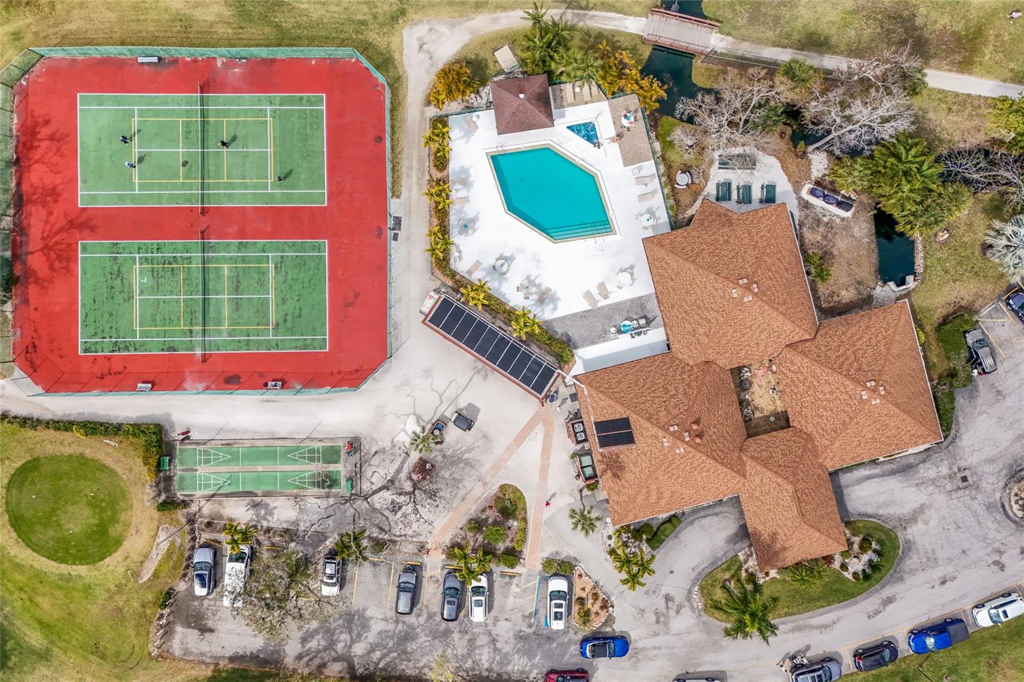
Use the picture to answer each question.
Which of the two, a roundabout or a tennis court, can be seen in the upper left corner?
tennis court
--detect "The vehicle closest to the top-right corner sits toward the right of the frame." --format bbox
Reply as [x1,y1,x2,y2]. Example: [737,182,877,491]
[996,283,1024,331]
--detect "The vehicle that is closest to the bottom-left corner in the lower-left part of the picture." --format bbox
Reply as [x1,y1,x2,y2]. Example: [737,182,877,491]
[191,545,218,598]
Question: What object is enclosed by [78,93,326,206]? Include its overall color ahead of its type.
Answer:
green tennis court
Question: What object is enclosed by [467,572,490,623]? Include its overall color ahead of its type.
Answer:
white car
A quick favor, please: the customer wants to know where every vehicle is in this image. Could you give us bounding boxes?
[467,572,490,623]
[961,326,1000,376]
[996,283,1024,331]
[579,633,628,660]
[394,564,418,617]
[449,410,475,434]
[907,617,971,653]
[546,575,570,631]
[439,569,463,622]
[850,637,897,670]
[786,654,840,682]
[222,544,253,608]
[318,551,342,596]
[191,545,218,598]
[971,591,1024,627]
